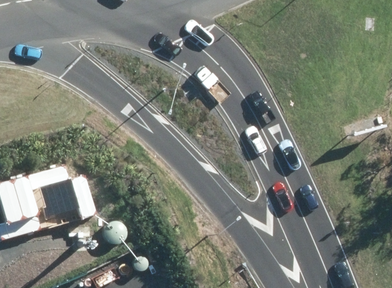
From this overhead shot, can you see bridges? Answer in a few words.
No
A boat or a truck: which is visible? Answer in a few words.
truck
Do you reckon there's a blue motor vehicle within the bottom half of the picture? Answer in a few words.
Yes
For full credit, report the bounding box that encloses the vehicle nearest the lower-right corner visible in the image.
[332,260,353,288]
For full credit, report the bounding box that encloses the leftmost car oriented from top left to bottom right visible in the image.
[150,32,181,59]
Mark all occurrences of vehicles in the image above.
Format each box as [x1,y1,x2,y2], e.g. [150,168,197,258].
[14,44,42,60]
[271,181,293,213]
[184,20,214,46]
[150,32,181,59]
[332,260,353,288]
[194,66,230,103]
[298,184,318,212]
[244,126,268,156]
[248,92,276,125]
[278,138,300,171]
